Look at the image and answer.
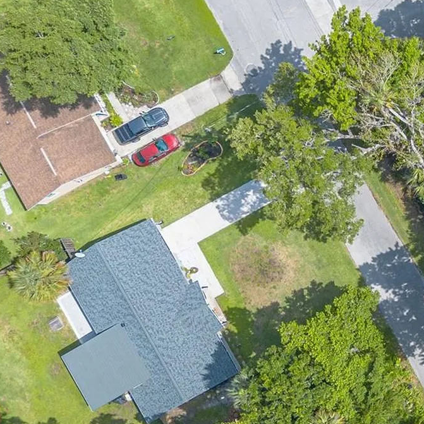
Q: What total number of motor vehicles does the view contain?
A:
two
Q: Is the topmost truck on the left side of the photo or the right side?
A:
left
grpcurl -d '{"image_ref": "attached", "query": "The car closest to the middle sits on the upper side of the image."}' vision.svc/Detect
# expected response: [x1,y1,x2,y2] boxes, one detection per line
[129,131,187,171]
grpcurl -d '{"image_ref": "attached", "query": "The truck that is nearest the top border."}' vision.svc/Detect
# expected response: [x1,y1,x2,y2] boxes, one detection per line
[107,102,175,150]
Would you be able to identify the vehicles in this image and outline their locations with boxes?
[129,131,187,171]
[107,102,175,150]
